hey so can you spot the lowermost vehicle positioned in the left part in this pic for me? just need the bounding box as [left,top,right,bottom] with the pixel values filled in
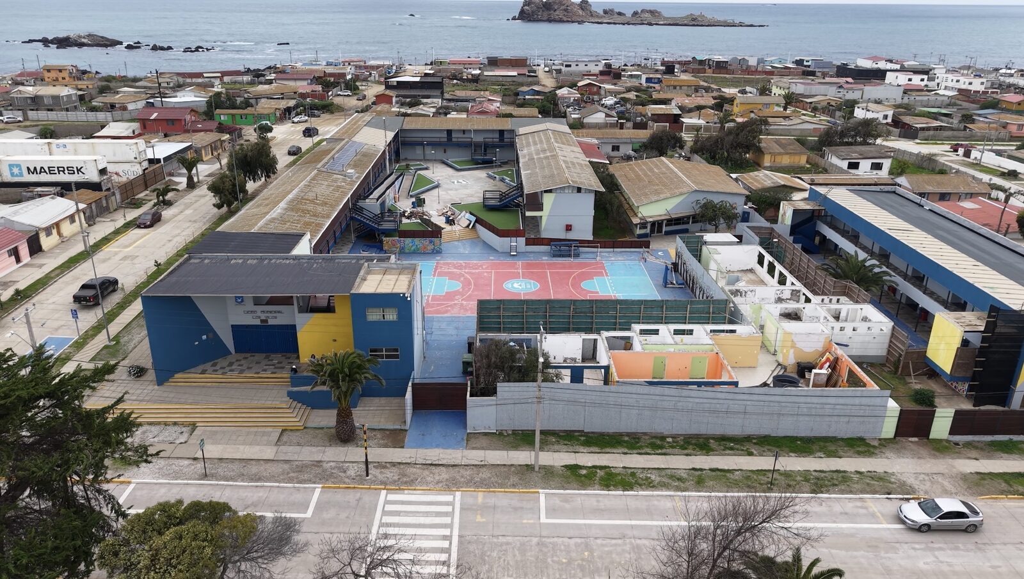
[70,277,115,302]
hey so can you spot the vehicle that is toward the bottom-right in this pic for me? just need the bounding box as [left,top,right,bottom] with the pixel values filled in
[898,493,989,530]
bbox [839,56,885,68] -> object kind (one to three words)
house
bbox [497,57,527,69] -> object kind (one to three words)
house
